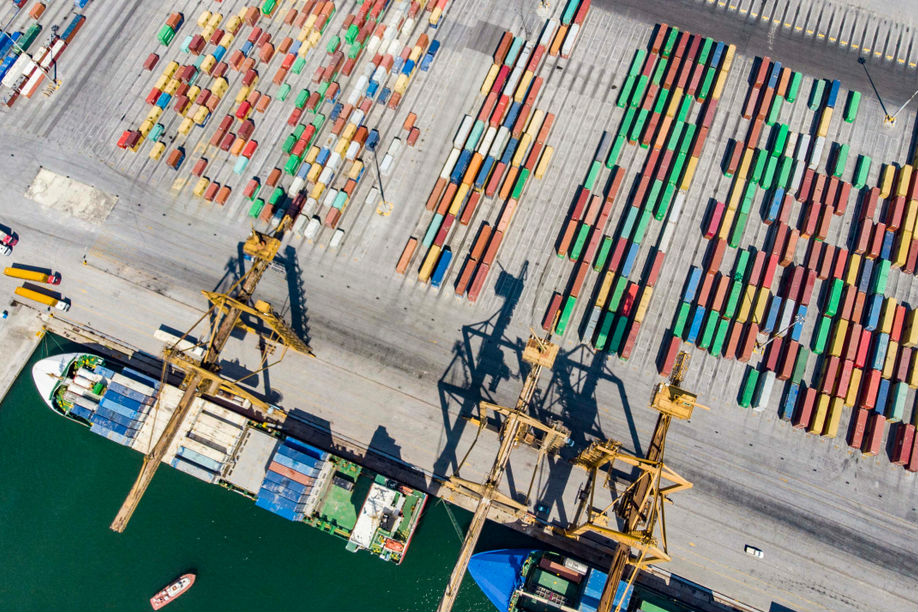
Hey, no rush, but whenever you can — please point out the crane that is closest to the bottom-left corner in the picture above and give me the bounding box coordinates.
[102,205,310,536]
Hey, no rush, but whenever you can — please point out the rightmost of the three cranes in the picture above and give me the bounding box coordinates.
[550,360,712,612]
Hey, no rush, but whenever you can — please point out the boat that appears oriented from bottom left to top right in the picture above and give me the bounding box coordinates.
[149,574,195,610]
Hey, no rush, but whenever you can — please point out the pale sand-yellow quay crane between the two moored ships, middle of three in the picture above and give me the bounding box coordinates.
[432,311,563,612]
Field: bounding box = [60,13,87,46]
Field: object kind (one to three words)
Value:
shipping container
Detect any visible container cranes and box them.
[432,311,563,612]
[102,205,310,536]
[550,360,712,612]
